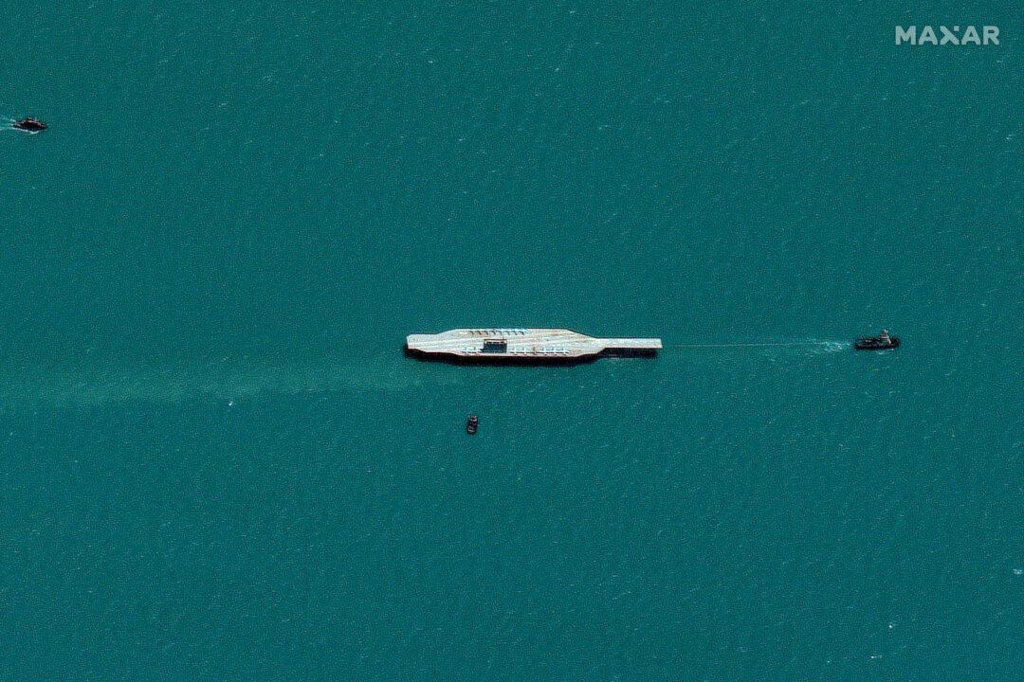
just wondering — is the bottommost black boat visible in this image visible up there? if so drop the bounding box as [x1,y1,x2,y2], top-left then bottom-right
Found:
[466,415,478,436]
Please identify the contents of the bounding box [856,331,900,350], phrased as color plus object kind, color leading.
black boat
